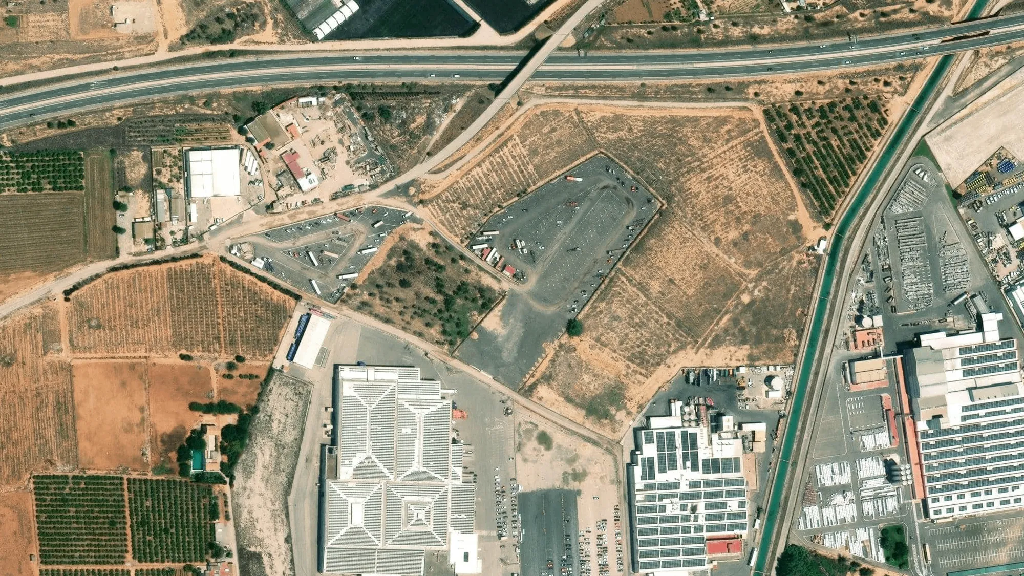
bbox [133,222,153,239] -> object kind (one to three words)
barn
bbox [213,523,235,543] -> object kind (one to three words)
house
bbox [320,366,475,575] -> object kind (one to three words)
building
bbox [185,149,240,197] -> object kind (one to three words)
building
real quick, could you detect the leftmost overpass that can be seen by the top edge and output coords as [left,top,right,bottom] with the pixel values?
[383,0,603,194]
